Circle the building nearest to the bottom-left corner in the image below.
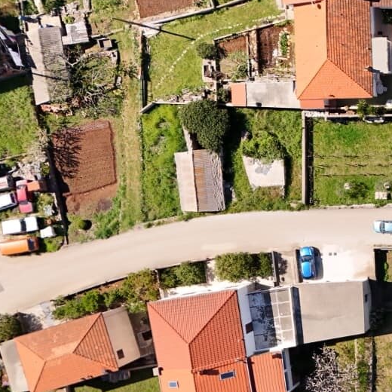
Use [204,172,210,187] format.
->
[0,303,153,392]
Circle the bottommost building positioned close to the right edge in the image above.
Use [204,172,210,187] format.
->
[294,275,377,344]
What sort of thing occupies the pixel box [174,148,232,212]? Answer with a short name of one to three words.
barn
